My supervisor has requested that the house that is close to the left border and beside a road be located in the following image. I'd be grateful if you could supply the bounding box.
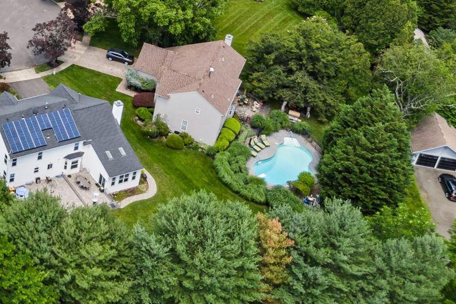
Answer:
[0,82,144,189]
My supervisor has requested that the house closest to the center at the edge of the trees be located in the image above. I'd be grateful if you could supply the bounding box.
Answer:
[131,30,247,143]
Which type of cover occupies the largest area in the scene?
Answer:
trees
